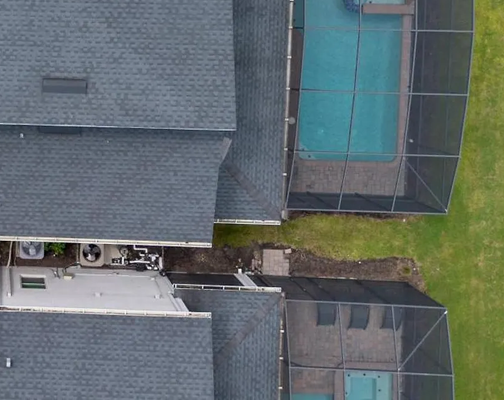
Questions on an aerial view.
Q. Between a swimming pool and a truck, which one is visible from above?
swimming pool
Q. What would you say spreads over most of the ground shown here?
buildings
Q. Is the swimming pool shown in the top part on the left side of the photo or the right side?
right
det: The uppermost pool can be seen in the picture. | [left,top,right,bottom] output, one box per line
[295,0,415,169]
